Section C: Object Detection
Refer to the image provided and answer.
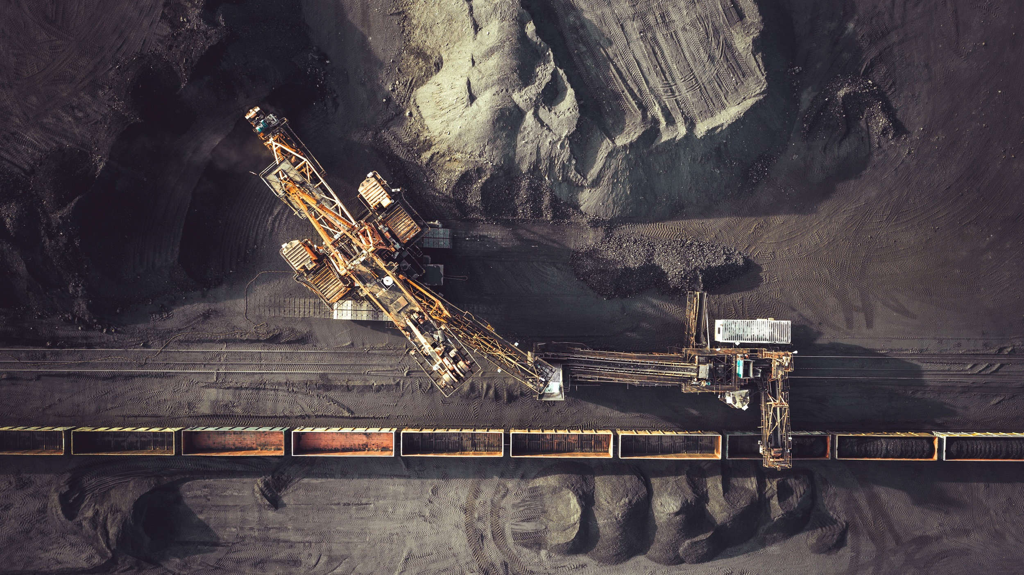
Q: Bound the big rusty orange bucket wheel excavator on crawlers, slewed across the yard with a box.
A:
[239,102,556,397]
